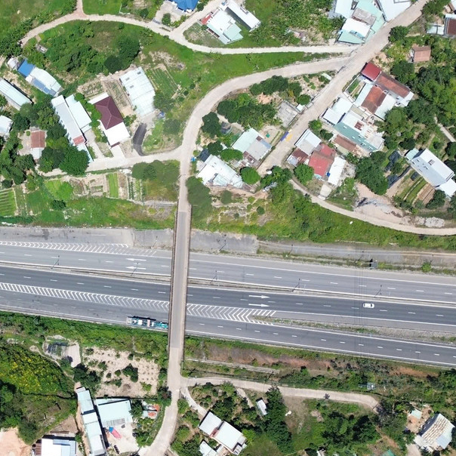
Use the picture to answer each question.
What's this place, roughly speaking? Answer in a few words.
residential area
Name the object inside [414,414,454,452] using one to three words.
house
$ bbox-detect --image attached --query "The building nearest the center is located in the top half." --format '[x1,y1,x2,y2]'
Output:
[200,156,243,190]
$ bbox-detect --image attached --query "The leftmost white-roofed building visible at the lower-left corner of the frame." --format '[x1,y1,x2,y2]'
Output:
[33,438,74,456]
